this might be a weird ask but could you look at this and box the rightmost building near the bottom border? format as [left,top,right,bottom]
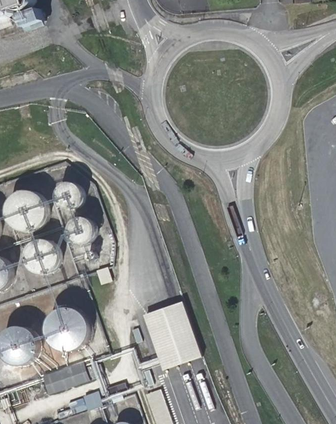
[146,387,176,424]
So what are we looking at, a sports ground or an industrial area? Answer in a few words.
industrial area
